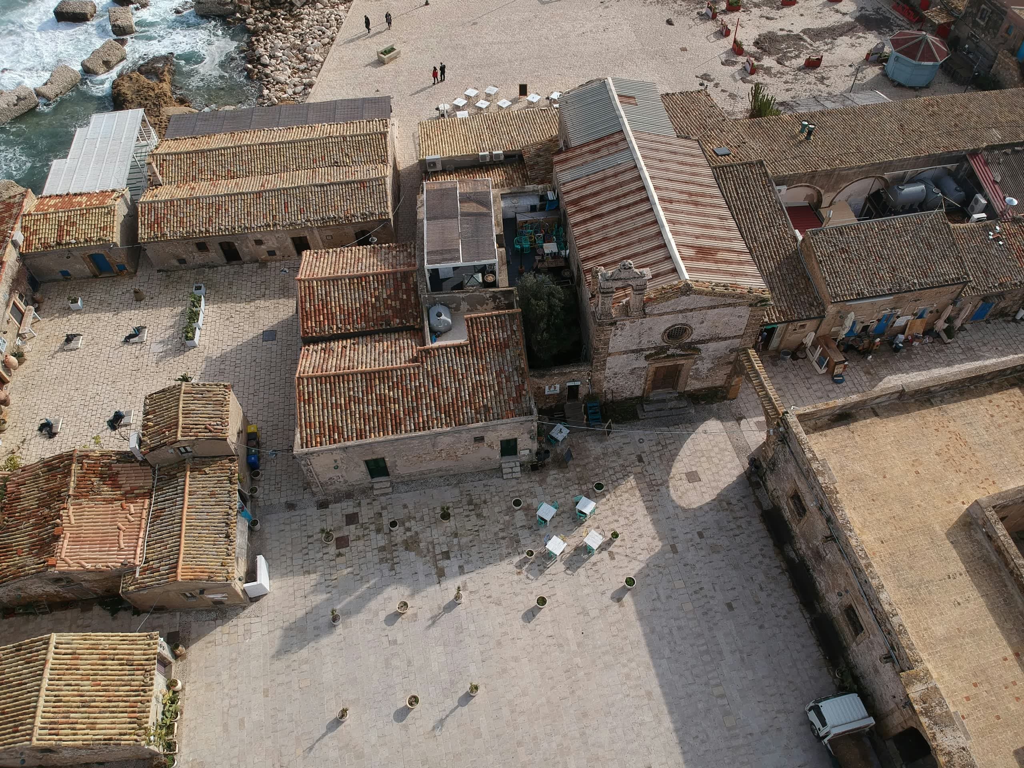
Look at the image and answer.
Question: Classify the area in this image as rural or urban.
urban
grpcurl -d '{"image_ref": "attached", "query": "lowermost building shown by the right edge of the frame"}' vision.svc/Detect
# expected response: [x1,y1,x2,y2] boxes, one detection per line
[740,355,1024,768]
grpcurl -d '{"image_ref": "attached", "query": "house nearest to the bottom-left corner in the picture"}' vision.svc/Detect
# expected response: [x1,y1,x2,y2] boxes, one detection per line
[0,630,172,761]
